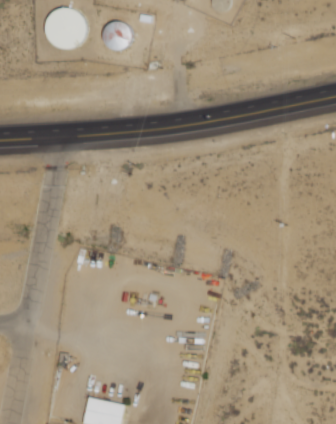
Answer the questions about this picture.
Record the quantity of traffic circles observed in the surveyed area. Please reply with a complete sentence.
There are no traffic circles in this view.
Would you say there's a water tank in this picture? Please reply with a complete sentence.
Yes, this view includes a water tank.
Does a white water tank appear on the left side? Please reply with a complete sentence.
Yes, there is a white water tank on the left side.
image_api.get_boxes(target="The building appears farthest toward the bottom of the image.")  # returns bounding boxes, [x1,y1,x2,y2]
[83,396,126,424]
